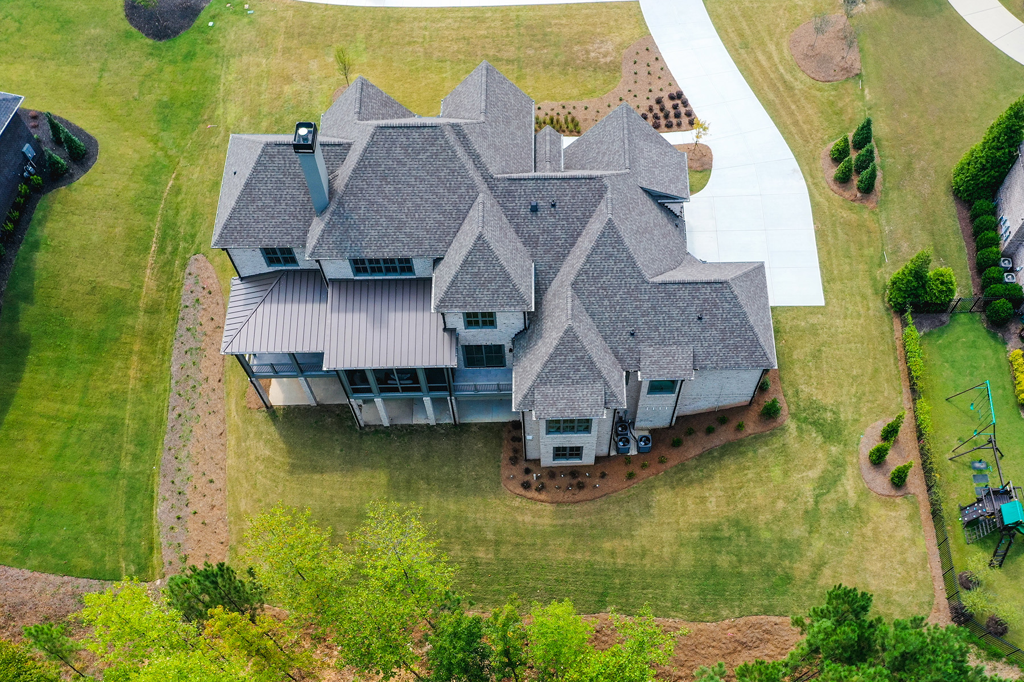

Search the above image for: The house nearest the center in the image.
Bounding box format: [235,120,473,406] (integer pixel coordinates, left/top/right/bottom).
[209,58,780,466]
